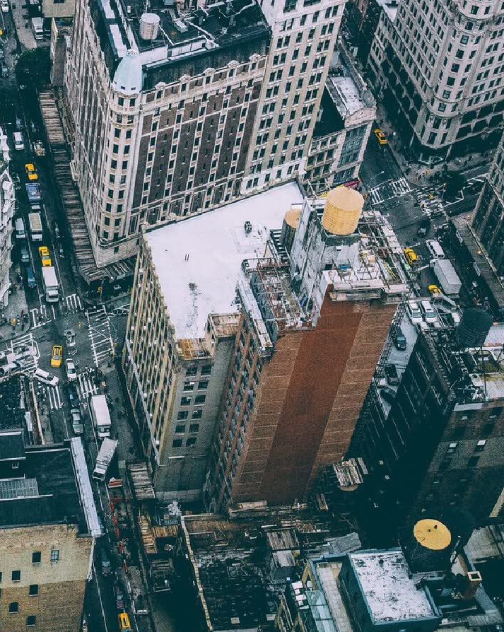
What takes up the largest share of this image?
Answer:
buildings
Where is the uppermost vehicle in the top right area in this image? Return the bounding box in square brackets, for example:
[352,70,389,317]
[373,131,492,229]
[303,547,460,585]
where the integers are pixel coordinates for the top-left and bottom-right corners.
[375,129,387,143]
